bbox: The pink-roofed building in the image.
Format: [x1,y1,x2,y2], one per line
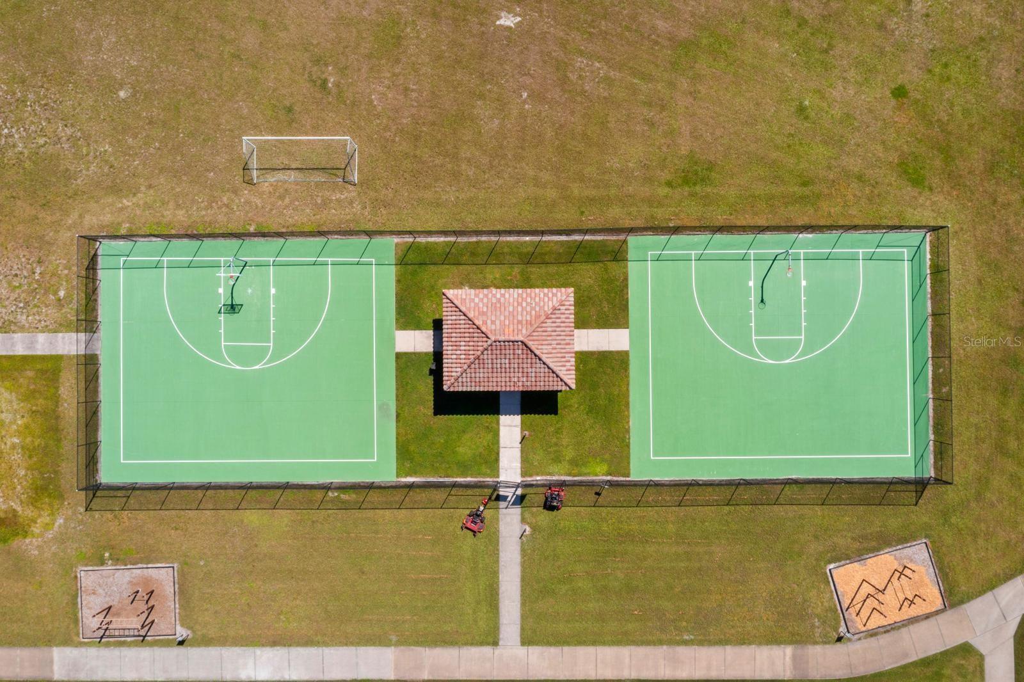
[441,287,576,392]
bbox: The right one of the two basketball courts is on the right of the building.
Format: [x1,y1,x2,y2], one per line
[629,233,930,478]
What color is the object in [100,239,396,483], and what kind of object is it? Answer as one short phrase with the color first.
green basketball court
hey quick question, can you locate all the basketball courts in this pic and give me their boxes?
[629,233,930,478]
[100,239,396,483]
